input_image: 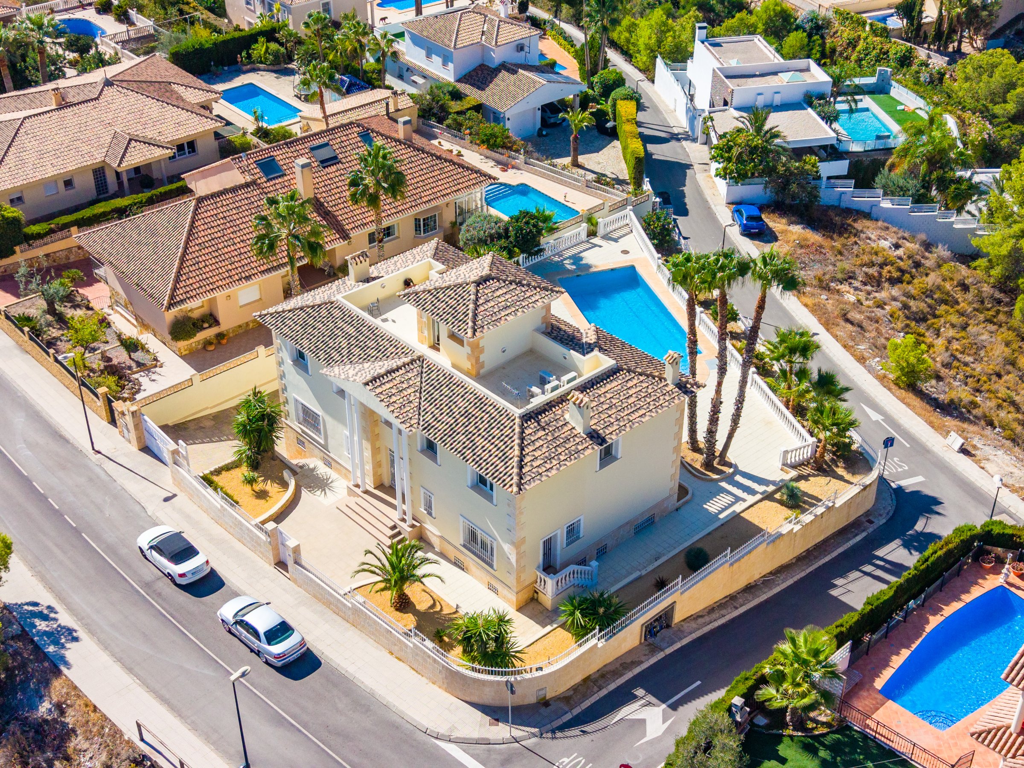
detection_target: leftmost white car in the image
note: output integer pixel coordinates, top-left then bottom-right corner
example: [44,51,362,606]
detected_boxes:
[133,522,210,585]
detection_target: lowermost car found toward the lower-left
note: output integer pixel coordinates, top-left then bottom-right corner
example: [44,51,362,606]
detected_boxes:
[215,592,303,665]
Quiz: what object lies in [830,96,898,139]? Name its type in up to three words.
swimming pool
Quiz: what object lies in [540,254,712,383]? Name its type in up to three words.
swimming pool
